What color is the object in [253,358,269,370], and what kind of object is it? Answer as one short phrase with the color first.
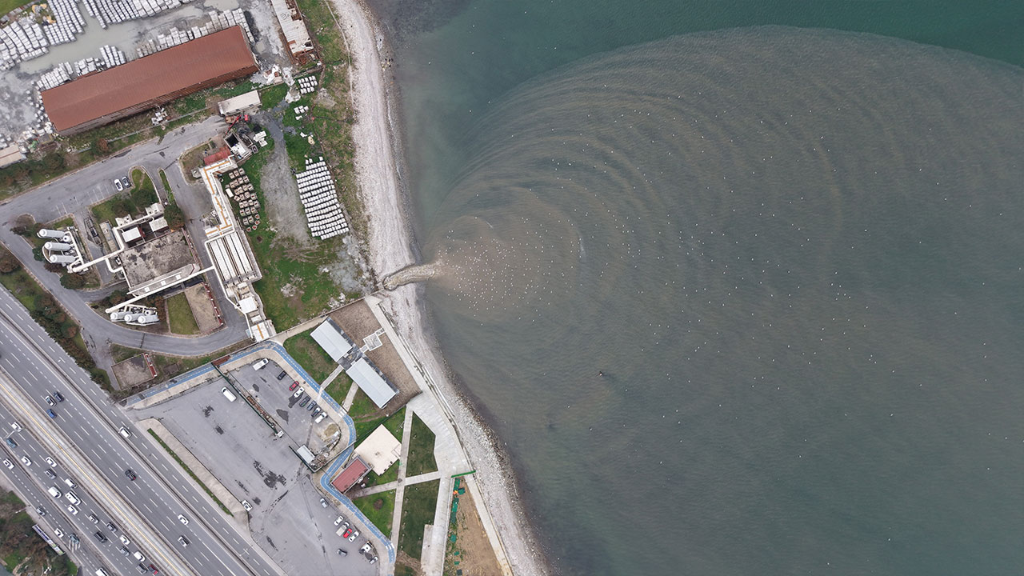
white vehicle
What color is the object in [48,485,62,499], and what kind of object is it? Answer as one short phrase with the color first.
white vehicle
